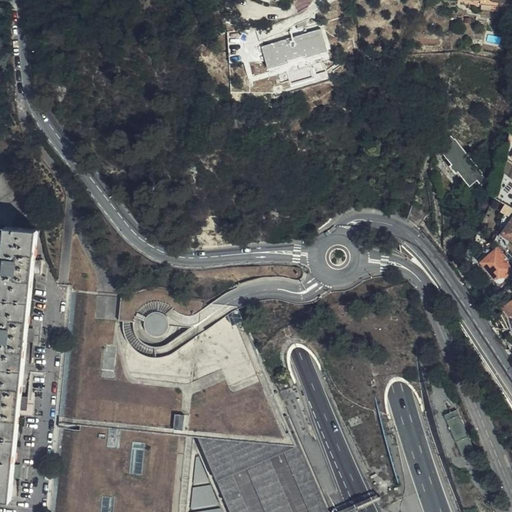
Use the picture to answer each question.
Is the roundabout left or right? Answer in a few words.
right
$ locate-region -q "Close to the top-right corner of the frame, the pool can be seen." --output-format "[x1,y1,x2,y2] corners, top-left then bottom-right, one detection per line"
[484,31,501,46]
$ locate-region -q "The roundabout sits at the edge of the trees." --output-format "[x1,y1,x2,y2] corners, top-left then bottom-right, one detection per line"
[307,226,370,288]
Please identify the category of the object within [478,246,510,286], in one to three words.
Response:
house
